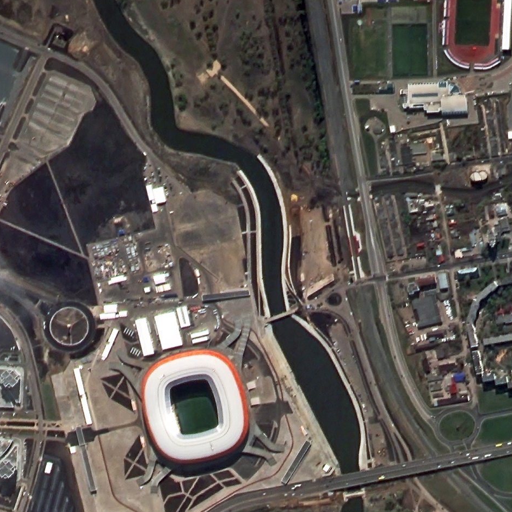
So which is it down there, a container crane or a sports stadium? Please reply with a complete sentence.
I can see a sports stadium in this picture.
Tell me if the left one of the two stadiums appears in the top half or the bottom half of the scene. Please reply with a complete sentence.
You can find the left one of the two stadiums in the bottom half.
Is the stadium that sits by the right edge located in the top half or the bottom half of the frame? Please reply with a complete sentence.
The stadium that sits by the right edge is in the top half of the image.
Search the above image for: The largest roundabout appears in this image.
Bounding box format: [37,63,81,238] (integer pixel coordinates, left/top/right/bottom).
[432,404,480,446]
